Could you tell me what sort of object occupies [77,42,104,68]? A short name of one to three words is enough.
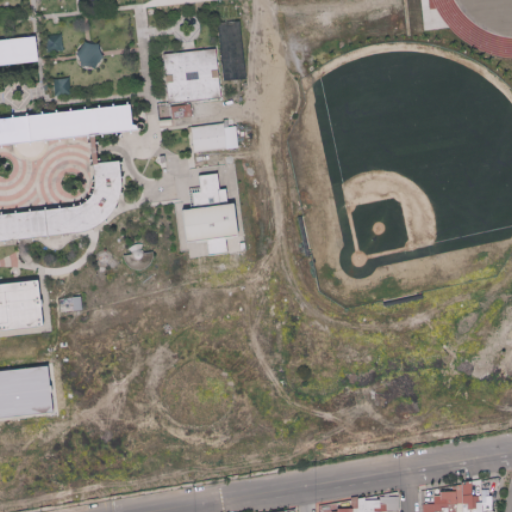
building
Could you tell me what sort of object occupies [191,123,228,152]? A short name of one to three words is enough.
building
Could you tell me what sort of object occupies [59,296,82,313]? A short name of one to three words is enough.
shed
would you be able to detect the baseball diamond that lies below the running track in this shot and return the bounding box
[302,42,512,278]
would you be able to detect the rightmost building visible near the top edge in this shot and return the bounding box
[220,20,246,81]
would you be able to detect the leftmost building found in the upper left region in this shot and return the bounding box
[0,36,38,66]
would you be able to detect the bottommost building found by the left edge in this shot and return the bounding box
[0,365,53,418]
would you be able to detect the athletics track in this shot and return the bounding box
[430,0,512,58]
